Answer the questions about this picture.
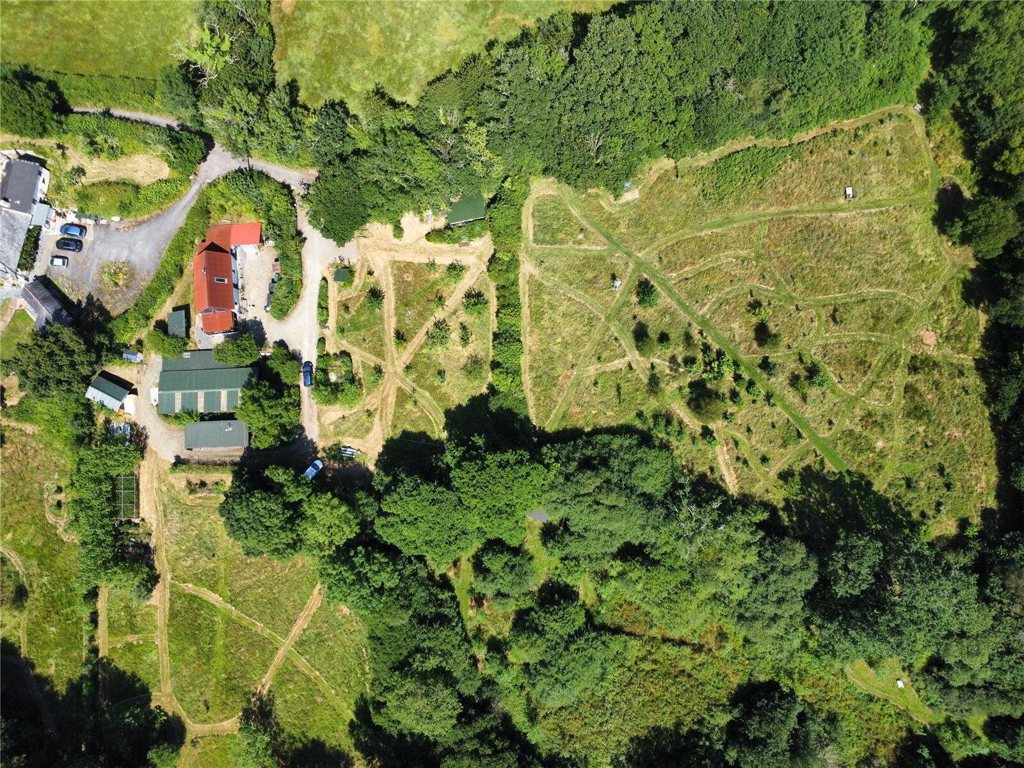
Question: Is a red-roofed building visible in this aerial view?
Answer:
Yes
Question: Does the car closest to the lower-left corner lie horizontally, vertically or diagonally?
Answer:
diagonally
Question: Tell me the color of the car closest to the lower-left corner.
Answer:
blue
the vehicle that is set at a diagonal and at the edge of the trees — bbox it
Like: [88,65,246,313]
[301,458,324,482]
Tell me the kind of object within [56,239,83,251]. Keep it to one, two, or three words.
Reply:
vehicle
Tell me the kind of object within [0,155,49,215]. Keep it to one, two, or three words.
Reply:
house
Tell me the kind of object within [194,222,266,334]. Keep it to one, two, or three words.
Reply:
house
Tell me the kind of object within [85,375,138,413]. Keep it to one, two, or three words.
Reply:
shed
